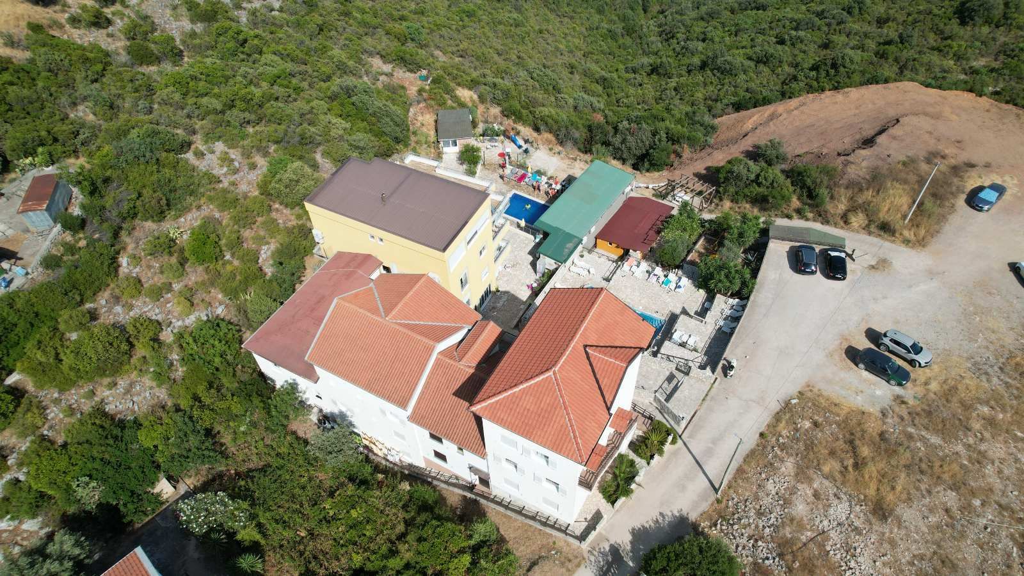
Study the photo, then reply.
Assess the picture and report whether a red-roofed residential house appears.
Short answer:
Yes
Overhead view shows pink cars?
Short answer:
No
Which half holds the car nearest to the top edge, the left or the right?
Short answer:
right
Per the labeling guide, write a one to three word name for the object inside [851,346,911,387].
car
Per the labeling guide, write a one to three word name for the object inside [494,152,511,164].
umbrella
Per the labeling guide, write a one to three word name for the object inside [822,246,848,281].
car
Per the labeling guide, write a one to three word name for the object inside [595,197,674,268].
shed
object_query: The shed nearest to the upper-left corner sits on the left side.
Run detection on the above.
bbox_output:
[18,174,61,230]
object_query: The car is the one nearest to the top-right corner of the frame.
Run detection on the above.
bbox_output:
[970,181,1009,211]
